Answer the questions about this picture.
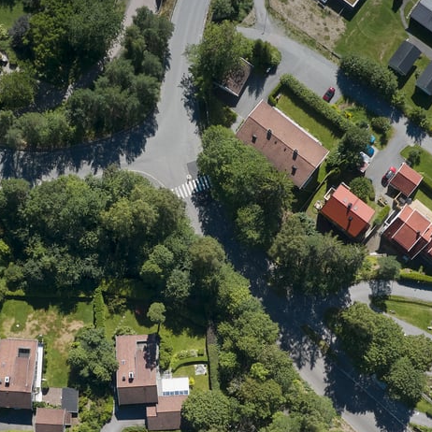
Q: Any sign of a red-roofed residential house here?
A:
Yes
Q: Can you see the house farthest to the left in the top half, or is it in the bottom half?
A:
bottom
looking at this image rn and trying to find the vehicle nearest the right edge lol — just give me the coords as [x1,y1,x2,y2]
[383,168,397,184]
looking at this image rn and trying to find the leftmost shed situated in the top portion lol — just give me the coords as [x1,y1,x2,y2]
[220,58,253,98]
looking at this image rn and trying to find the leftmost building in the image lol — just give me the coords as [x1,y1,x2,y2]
[0,339,37,409]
